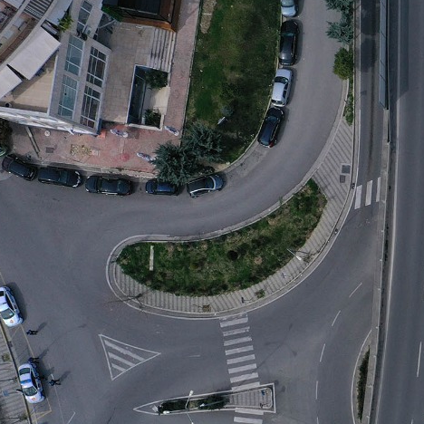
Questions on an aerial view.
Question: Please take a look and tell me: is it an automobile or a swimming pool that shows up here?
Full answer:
It is an automobile that can be seen here.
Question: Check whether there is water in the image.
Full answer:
No, there is no water in the image.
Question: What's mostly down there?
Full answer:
For the most part, this view shows paved ground.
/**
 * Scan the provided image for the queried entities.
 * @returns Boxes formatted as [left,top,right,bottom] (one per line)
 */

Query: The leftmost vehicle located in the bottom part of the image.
[0,285,24,329]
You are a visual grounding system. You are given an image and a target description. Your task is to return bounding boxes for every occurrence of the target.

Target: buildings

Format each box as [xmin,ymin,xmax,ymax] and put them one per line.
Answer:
[116,0,184,31]
[0,0,111,134]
